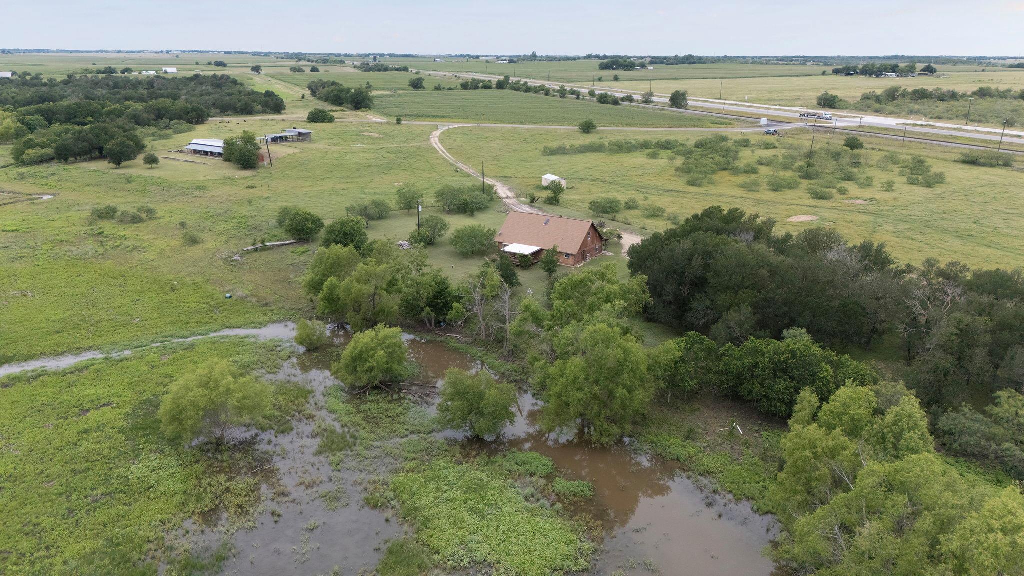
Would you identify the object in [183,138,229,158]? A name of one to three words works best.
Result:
house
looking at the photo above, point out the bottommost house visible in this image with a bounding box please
[496,210,611,267]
